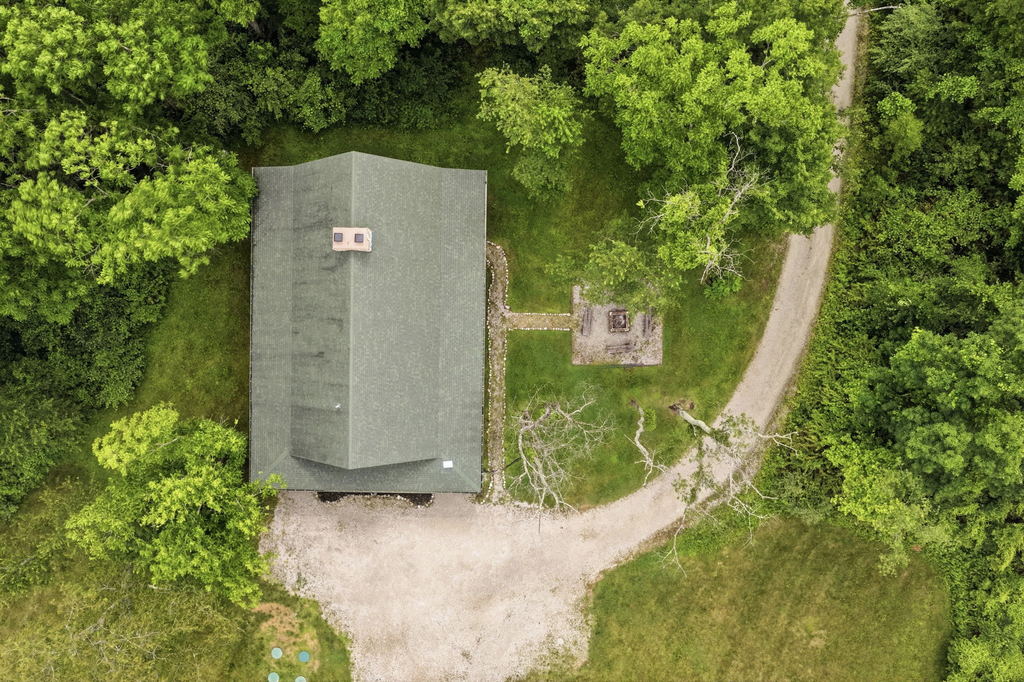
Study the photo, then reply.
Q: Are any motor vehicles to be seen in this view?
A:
No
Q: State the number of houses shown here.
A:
one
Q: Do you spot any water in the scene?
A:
No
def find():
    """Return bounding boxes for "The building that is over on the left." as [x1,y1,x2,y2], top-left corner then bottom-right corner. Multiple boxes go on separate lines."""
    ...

[248,150,486,494]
